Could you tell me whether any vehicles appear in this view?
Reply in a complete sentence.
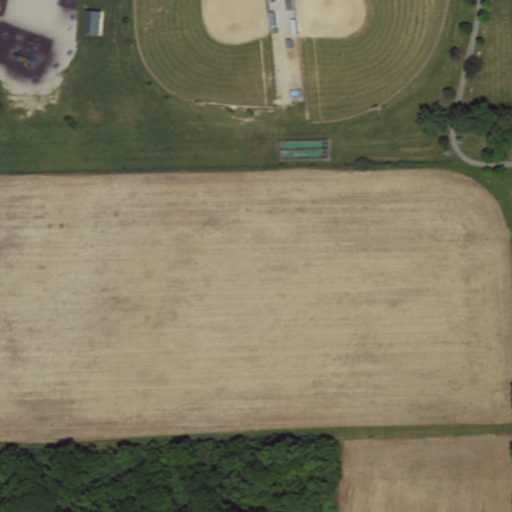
No, there isn't any vehicle down there.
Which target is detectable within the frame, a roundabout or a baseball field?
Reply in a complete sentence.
The image shows a baseball field.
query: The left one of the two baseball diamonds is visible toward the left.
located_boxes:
[132,0,276,108]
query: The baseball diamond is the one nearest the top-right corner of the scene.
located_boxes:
[294,0,448,124]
